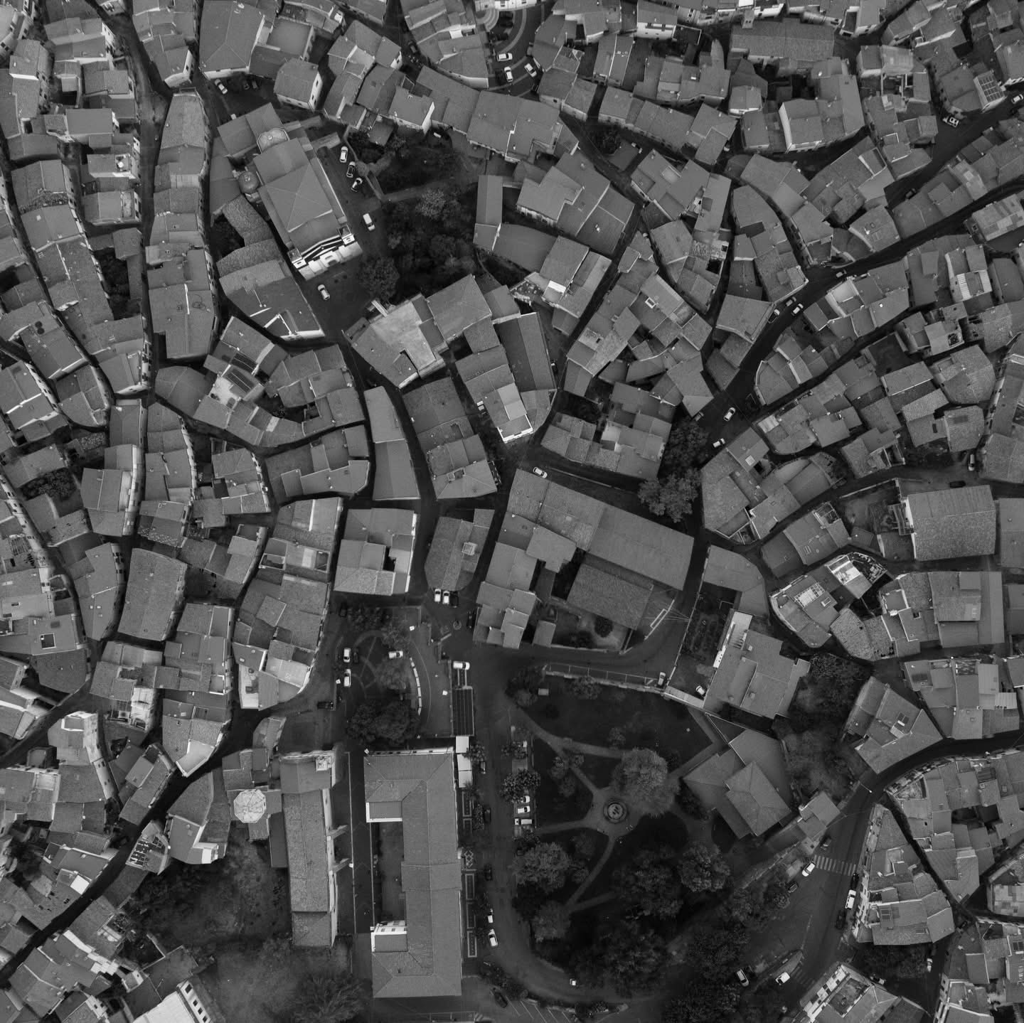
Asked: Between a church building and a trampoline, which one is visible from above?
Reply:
church building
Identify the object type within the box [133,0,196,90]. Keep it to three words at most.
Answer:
house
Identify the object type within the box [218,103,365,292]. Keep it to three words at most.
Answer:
church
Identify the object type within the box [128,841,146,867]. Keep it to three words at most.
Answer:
solar panel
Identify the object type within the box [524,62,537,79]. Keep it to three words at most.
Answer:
vehicle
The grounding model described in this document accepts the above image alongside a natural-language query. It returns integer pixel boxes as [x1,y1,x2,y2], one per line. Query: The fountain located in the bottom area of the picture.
[607,803,624,821]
